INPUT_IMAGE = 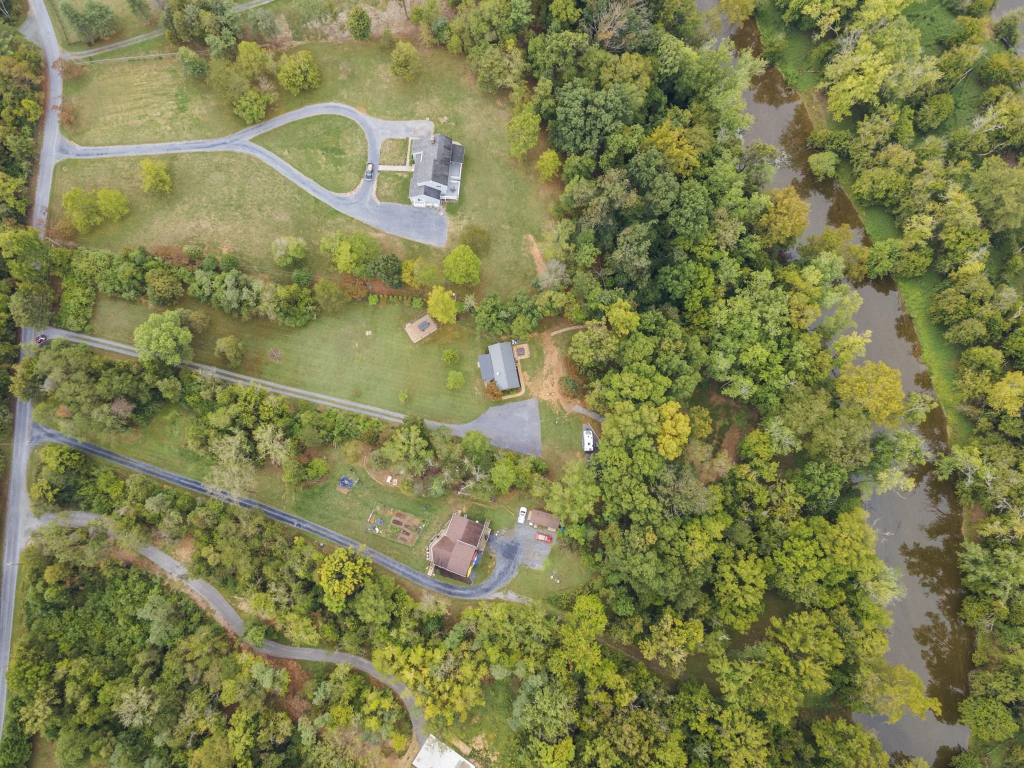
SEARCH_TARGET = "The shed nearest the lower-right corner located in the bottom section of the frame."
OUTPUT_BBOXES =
[526,509,560,533]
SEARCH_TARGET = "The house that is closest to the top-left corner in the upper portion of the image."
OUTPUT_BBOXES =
[407,133,465,208]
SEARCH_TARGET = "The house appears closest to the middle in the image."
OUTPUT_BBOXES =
[478,342,520,392]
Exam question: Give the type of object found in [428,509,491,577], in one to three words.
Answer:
house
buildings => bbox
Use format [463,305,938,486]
[428,509,491,577]
[407,133,465,208]
[411,732,475,768]
[526,509,560,533]
[478,342,520,392]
